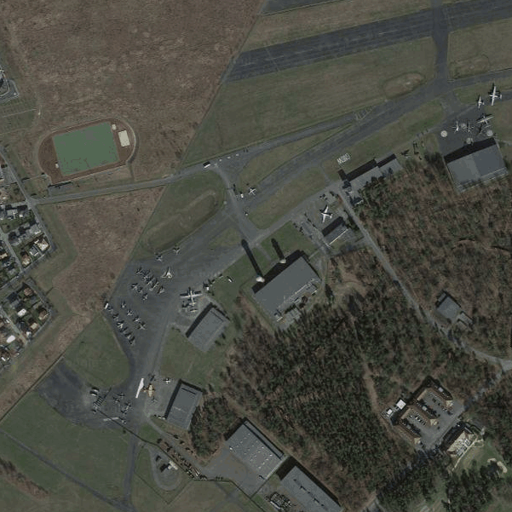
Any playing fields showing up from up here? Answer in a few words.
Yes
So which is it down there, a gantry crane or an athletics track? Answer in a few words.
athletics track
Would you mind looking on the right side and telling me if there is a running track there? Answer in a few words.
No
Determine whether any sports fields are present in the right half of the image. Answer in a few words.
No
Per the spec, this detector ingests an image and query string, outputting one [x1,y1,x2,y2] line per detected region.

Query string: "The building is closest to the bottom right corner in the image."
[440,427,475,458]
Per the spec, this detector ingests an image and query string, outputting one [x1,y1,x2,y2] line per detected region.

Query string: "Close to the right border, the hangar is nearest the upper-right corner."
[447,144,506,186]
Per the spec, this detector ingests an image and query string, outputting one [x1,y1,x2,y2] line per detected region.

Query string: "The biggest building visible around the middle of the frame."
[255,257,321,319]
